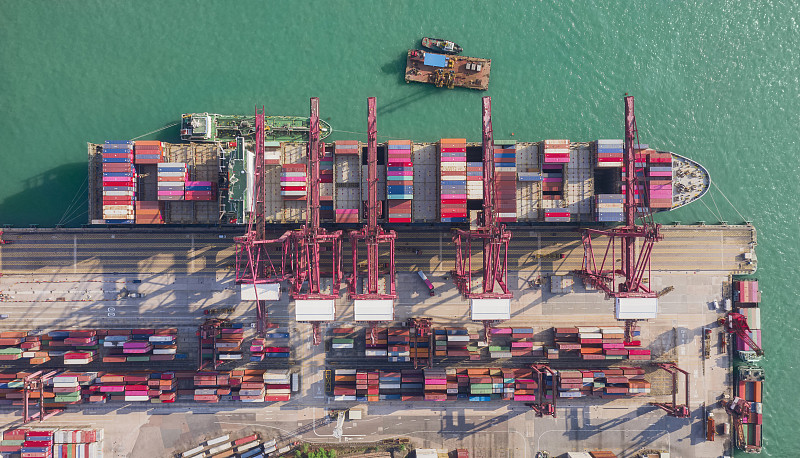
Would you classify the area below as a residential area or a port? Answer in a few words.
port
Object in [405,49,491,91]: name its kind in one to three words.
ship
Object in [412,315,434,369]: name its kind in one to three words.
container crane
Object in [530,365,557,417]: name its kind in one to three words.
container crane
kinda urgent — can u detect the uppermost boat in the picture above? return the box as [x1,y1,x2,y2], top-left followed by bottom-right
[420,38,462,53]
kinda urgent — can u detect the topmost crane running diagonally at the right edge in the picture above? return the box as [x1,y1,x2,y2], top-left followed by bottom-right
[718,313,760,355]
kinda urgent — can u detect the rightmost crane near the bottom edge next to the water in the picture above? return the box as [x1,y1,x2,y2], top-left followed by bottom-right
[721,398,752,452]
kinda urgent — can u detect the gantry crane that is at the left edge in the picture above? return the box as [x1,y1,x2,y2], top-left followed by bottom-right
[25,371,62,423]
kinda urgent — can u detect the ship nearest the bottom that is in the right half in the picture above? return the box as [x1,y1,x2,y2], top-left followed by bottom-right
[734,365,767,453]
